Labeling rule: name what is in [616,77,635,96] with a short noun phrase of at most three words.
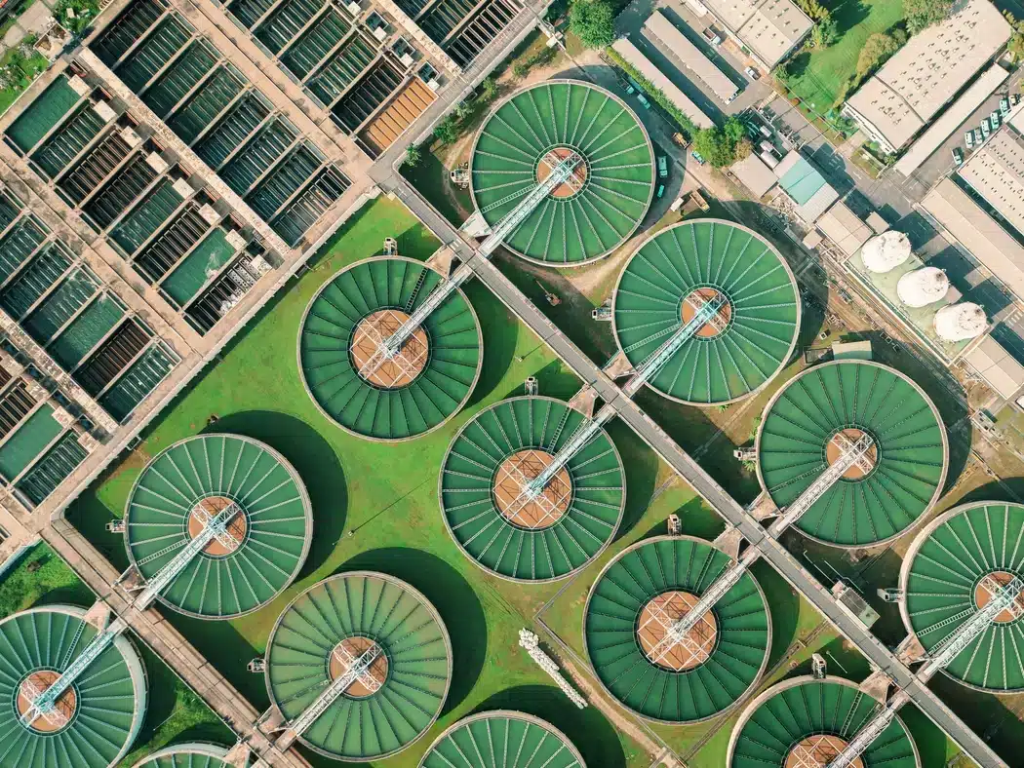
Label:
vehicle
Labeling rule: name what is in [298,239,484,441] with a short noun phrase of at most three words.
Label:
storage tank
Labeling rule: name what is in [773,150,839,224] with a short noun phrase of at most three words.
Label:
building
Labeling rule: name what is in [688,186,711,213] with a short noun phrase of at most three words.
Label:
truck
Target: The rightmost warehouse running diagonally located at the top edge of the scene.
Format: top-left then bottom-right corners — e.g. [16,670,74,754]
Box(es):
[847,0,1014,150]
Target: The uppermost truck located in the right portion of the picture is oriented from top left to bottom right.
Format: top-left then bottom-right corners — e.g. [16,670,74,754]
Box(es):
[700,24,723,47]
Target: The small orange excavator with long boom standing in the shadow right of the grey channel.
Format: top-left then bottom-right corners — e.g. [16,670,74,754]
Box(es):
[536,280,561,306]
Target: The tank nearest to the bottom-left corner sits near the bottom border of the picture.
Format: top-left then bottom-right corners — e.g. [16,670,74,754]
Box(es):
[0,597,152,768]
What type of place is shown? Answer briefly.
industrial area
